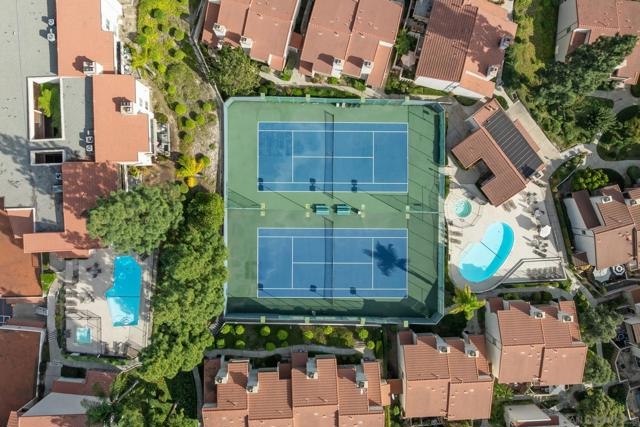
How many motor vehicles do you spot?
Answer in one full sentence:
I count no motor vehicles.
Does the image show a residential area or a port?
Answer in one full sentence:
This image shows a residential area.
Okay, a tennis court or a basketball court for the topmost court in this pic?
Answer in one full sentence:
From above, the topmost court can be identified as a tennis court.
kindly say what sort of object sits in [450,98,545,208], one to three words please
building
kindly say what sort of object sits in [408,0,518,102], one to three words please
house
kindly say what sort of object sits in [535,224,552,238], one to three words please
umbrella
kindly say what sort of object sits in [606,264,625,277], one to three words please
umbrella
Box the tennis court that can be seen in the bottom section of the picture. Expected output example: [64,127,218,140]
[229,209,438,317]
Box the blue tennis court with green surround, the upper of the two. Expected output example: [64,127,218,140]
[229,102,438,209]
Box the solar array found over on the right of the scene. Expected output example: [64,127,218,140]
[484,110,544,181]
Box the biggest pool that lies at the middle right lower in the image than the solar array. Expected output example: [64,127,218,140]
[458,220,517,284]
